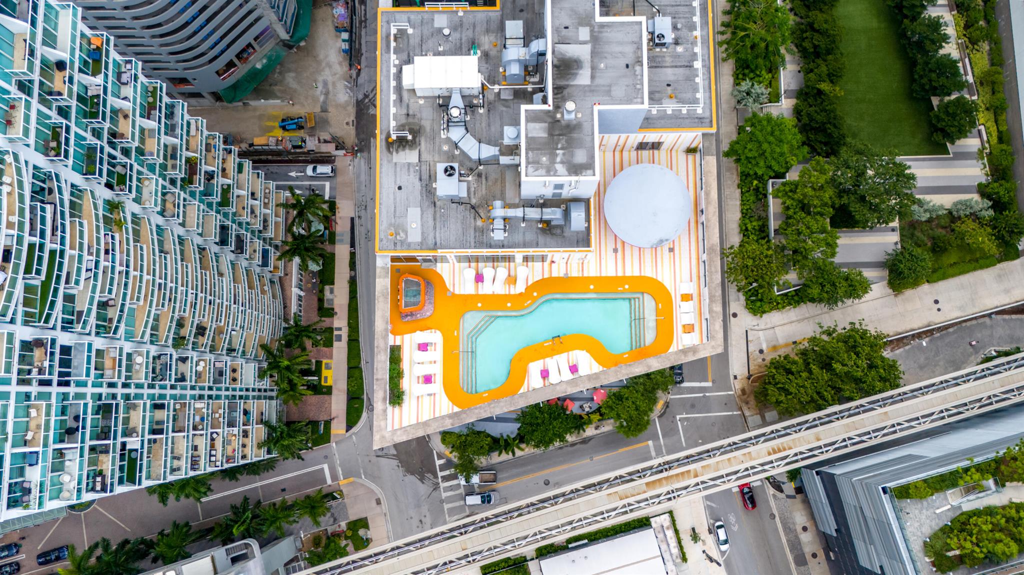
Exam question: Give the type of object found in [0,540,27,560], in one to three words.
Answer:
car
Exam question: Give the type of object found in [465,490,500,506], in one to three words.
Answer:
car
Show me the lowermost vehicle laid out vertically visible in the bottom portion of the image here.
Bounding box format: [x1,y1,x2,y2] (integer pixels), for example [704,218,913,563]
[711,518,730,553]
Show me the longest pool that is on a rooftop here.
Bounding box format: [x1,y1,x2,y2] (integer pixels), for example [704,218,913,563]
[459,292,657,395]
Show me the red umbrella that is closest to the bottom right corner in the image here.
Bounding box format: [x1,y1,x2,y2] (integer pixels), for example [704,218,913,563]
[592,389,607,404]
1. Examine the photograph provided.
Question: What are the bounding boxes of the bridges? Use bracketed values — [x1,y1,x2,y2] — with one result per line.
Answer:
[276,351,1024,575]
